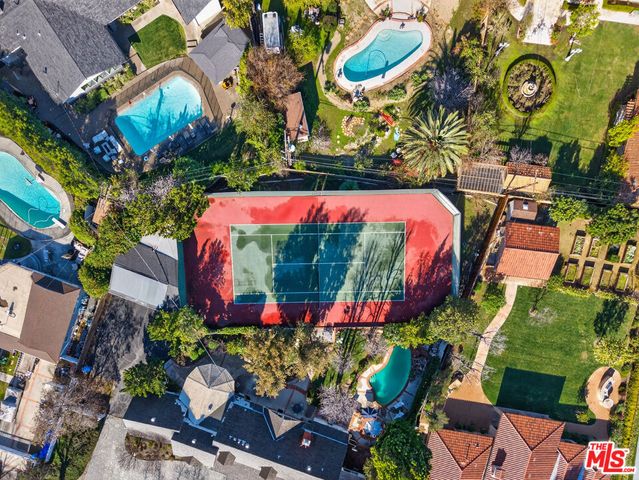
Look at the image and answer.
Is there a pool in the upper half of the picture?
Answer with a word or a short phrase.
Yes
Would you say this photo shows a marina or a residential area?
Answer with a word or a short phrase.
residential area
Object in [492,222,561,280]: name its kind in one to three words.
house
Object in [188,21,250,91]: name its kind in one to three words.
building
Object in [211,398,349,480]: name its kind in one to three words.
house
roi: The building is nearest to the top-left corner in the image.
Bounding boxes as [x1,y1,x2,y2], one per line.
[0,0,149,102]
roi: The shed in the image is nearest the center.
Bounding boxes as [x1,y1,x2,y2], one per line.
[286,92,309,149]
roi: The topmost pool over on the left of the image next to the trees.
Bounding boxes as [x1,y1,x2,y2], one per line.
[107,67,211,164]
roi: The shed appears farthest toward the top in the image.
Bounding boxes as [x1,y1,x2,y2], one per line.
[172,0,218,35]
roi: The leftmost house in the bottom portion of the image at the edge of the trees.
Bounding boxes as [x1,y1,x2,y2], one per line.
[0,262,88,366]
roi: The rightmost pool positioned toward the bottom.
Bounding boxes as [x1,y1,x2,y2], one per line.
[364,337,417,411]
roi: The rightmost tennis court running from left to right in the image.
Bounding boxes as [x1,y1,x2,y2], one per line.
[185,193,452,326]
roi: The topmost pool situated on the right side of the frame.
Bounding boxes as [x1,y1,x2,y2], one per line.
[338,24,429,86]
